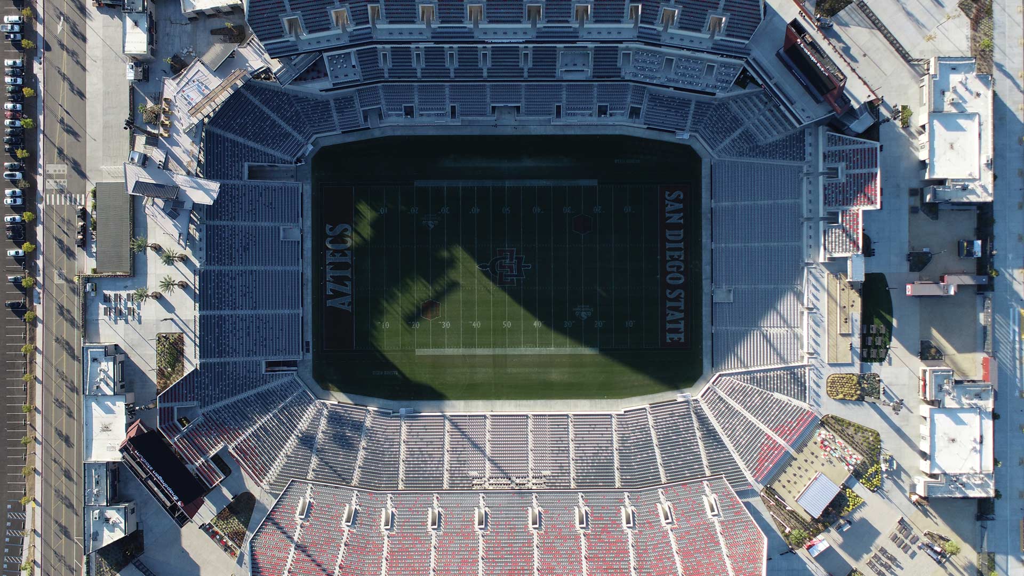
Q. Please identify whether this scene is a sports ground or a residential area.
sports ground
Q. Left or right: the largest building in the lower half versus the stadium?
on the right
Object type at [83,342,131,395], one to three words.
building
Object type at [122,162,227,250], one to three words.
building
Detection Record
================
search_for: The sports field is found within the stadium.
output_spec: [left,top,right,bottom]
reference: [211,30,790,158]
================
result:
[312,134,702,400]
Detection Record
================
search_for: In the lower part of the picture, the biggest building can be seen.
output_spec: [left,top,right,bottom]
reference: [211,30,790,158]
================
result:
[912,367,994,497]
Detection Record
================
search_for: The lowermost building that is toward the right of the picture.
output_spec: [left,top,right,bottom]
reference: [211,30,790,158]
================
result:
[790,469,840,517]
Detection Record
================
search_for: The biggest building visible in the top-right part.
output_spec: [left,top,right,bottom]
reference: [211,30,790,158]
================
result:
[912,57,993,204]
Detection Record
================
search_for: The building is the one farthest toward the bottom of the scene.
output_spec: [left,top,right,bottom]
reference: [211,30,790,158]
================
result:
[84,501,137,555]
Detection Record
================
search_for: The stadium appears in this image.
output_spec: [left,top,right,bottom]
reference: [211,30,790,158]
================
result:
[156,0,822,576]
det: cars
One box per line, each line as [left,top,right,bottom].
[3,110,22,118]
[1,31,23,40]
[4,301,22,308]
[6,249,24,257]
[0,22,21,31]
[2,127,22,135]
[3,215,22,223]
[3,172,20,179]
[3,189,22,196]
[4,224,23,232]
[5,84,22,92]
[4,102,22,110]
[2,118,21,127]
[4,67,22,75]
[1,135,21,144]
[5,232,23,240]
[4,161,20,169]
[4,58,22,66]
[4,94,23,101]
[5,275,23,283]
[2,197,22,205]
[2,75,22,84]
